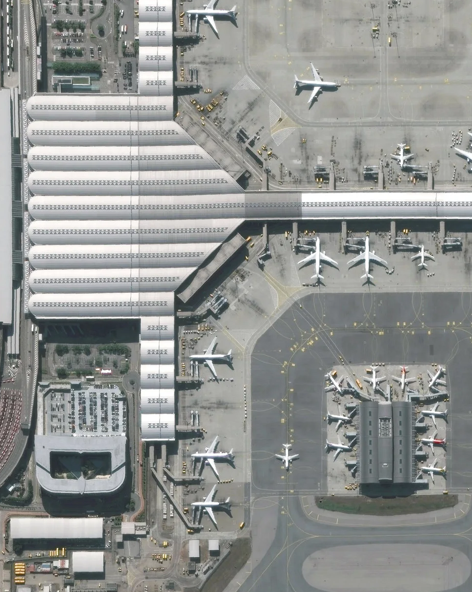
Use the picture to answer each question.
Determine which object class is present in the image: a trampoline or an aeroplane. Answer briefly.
aeroplane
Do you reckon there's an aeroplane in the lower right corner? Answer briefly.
Yes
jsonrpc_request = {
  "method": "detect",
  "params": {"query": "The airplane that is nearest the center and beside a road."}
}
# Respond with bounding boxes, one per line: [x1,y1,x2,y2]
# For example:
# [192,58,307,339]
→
[190,334,233,376]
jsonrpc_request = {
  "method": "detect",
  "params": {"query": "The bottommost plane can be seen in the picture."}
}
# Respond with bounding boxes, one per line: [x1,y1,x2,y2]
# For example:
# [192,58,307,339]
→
[191,482,232,523]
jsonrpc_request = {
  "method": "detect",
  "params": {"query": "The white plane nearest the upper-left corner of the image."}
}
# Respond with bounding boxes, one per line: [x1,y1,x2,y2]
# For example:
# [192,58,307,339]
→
[186,0,237,33]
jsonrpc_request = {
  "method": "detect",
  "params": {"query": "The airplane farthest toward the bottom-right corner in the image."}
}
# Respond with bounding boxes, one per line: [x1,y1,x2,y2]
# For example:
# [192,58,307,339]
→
[422,460,447,481]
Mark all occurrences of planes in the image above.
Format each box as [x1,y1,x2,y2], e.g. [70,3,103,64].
[275,444,299,470]
[186,0,237,33]
[325,434,353,458]
[422,431,446,452]
[391,143,411,167]
[391,365,415,393]
[190,334,233,376]
[326,406,351,428]
[292,62,336,103]
[191,482,232,523]
[296,238,337,279]
[363,366,385,391]
[324,371,342,394]
[423,402,448,426]
[413,246,433,267]
[345,236,387,279]
[428,366,446,388]
[422,460,447,481]
[192,432,234,475]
